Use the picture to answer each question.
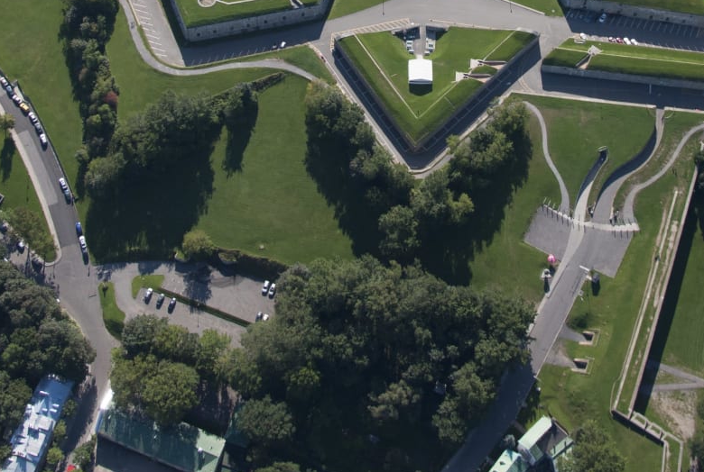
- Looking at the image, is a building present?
Yes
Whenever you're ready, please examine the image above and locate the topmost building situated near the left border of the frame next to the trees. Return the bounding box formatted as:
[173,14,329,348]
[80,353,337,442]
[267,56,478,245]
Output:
[32,373,79,417]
